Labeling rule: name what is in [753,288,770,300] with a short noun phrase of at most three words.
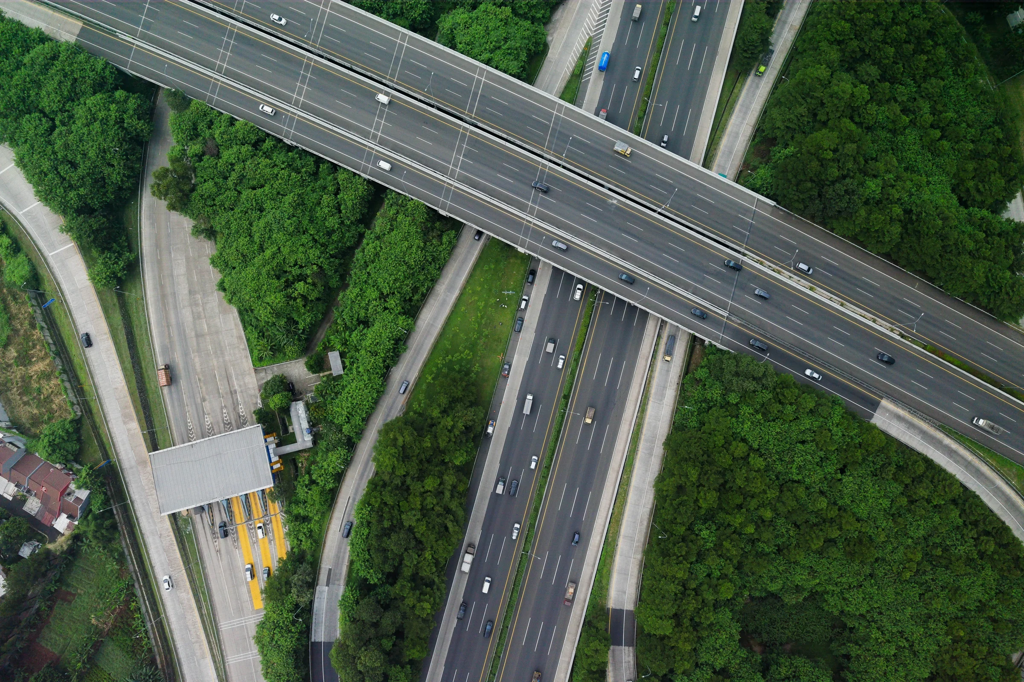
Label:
vehicle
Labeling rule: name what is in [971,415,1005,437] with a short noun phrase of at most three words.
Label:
truck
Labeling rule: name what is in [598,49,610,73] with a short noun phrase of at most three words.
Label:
vehicle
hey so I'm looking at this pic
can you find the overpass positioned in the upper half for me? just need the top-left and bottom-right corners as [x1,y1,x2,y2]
[43,0,1021,443]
